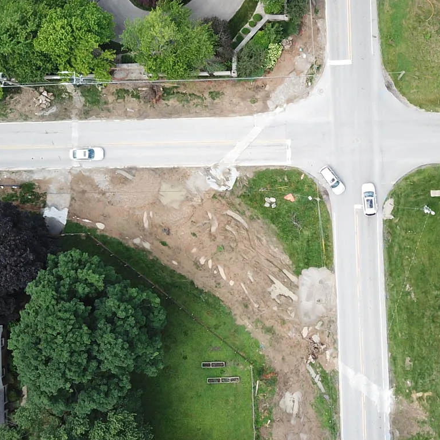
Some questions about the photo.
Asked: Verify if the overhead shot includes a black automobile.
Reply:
No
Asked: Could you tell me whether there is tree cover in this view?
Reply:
Yes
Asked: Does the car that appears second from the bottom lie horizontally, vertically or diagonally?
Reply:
diagonally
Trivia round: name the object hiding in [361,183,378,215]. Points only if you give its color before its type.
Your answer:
white car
